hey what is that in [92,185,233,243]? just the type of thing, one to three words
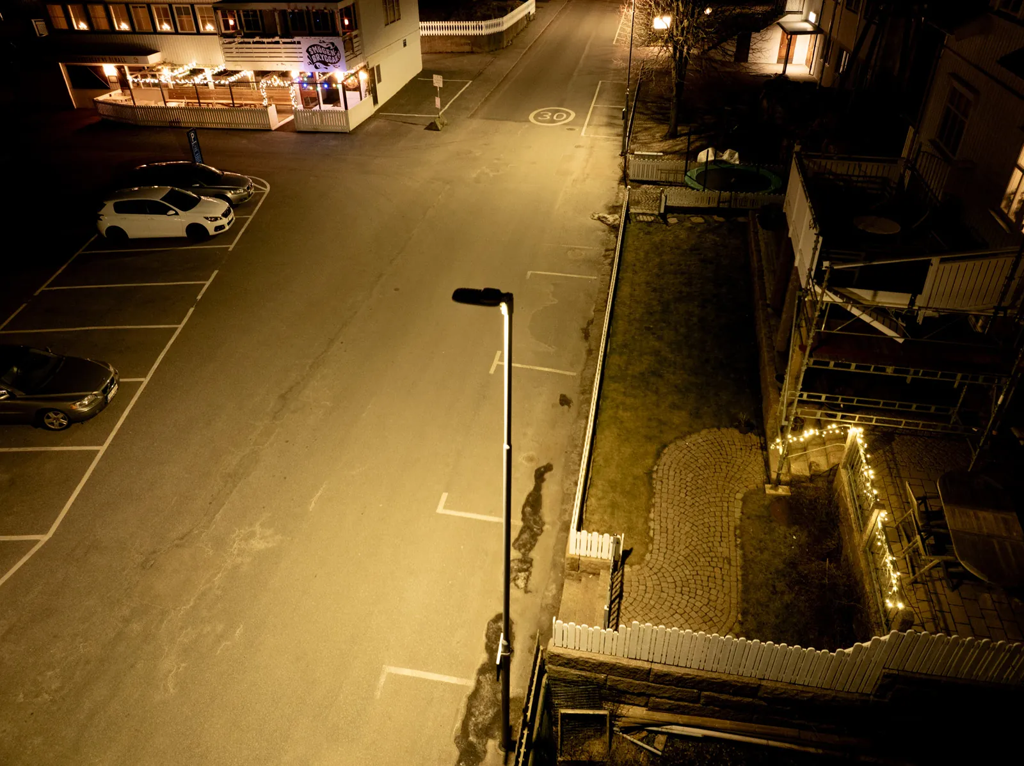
car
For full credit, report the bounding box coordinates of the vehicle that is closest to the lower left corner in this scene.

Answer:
[0,341,119,431]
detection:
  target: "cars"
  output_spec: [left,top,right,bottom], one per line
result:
[0,341,119,431]
[92,185,233,243]
[120,154,259,205]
